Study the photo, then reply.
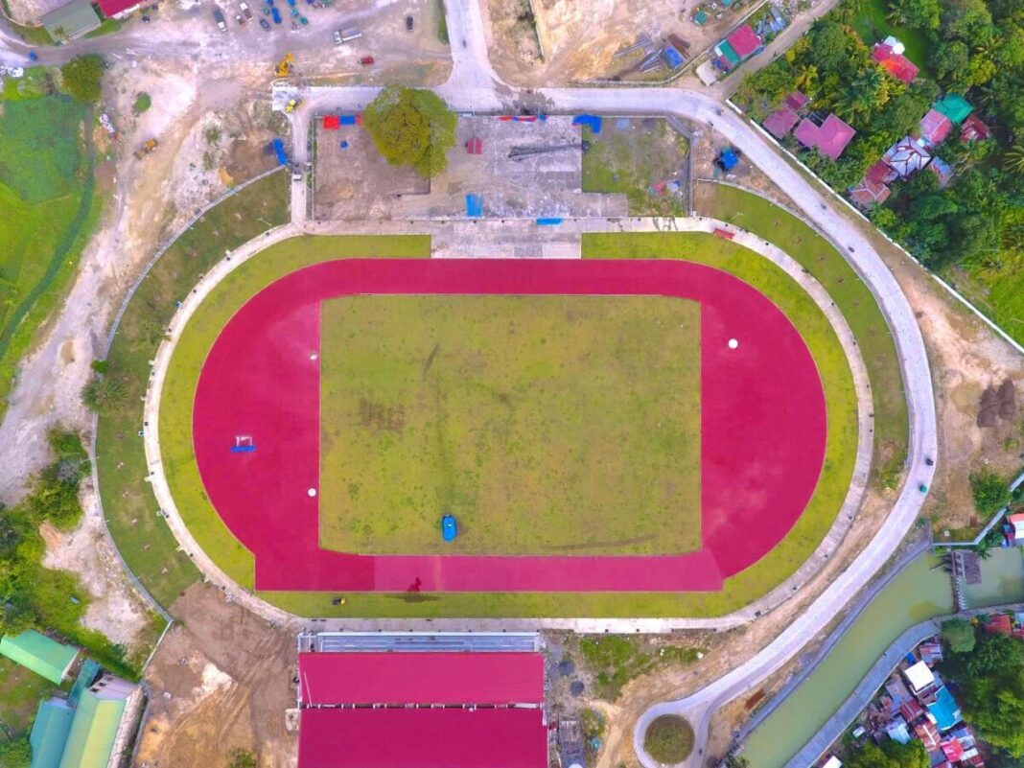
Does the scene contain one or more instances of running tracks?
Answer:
Yes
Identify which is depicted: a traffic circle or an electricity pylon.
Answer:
traffic circle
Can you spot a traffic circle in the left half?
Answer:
No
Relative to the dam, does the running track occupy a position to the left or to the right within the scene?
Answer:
to the left of it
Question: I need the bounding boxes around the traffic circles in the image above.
[643,712,697,767]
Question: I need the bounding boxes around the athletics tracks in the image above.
[192,257,827,592]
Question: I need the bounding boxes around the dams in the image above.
[947,549,986,611]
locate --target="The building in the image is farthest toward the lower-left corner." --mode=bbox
[23,690,82,768]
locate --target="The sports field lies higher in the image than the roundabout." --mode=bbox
[319,294,702,556]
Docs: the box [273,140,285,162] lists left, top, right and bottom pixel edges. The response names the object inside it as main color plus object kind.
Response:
blue vehicle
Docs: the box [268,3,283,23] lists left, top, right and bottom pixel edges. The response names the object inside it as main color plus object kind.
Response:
blue vehicle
